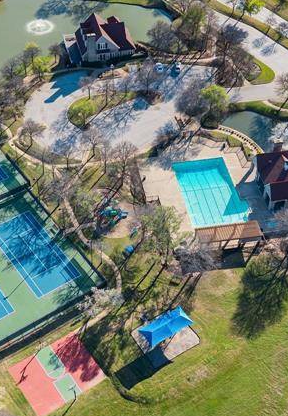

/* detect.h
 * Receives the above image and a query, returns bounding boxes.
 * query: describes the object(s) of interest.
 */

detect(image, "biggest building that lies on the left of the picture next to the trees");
[56,14,127,71]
